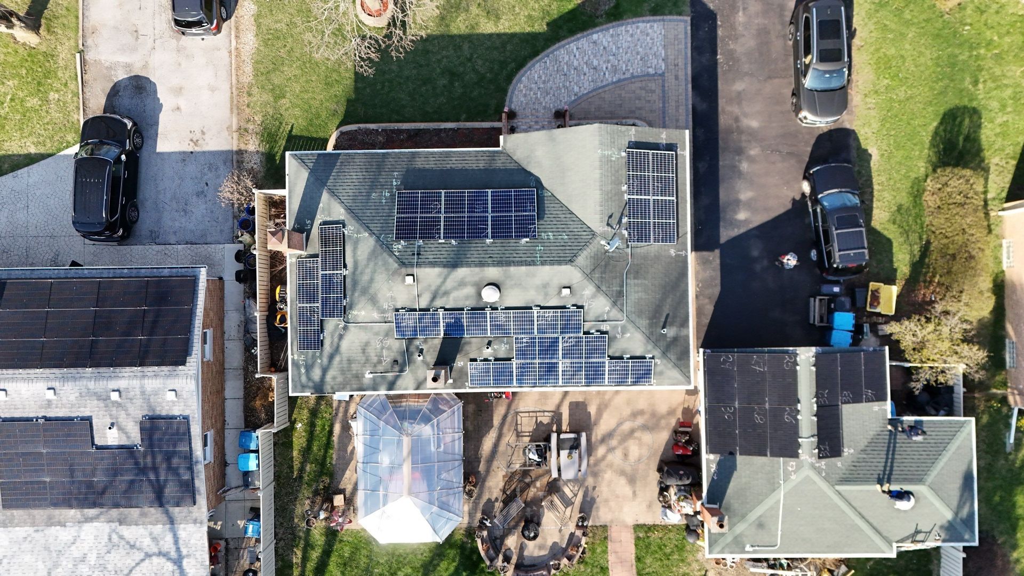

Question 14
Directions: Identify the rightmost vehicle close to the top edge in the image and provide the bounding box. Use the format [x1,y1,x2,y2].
[788,0,853,128]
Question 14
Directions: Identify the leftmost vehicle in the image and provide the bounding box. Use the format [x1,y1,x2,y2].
[68,115,144,245]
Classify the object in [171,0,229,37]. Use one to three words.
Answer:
car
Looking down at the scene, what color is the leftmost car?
black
